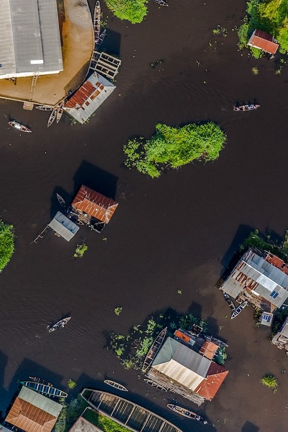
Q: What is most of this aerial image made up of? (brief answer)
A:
water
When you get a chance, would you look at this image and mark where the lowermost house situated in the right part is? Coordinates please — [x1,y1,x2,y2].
[145,330,228,405]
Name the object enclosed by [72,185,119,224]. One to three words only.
house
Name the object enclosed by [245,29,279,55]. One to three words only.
house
